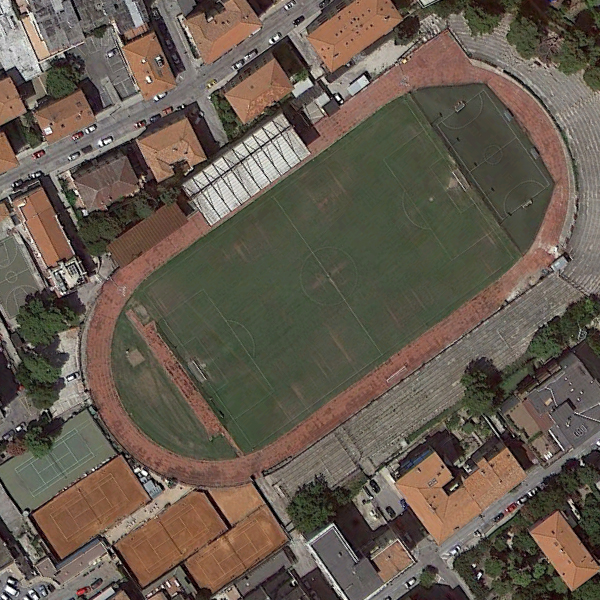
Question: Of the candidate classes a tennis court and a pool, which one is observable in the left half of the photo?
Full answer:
Visible in the left half of the photo is a tennis court.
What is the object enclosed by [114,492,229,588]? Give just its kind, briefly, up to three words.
tennis court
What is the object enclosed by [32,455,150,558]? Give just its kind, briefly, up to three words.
tennis court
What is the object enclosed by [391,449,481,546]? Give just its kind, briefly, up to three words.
building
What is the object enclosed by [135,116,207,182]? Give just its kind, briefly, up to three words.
house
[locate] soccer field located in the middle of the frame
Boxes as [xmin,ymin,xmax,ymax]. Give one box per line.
[111,92,524,460]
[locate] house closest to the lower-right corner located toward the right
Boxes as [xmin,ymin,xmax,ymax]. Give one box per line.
[527,507,600,591]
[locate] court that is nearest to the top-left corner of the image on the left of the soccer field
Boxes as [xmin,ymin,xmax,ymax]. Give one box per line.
[0,230,50,324]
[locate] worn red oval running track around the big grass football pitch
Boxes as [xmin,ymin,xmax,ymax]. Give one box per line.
[86,31,567,489]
